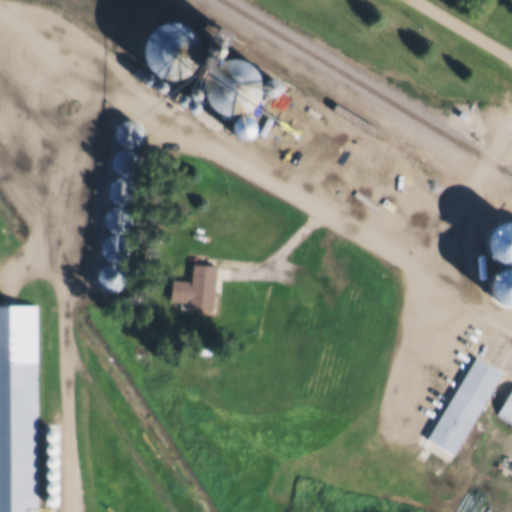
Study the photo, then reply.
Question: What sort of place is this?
industrial area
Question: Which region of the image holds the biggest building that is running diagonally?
bottom right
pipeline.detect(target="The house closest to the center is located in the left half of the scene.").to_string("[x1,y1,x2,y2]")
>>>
[172,266,216,314]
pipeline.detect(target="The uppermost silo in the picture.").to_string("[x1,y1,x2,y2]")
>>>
[139,24,200,80]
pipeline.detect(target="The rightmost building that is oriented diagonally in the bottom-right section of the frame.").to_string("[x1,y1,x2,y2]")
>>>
[426,360,501,460]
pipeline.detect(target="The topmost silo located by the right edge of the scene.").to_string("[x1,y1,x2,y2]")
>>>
[489,220,512,266]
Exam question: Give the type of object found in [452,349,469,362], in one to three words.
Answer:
vehicle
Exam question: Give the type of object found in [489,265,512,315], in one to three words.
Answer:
silo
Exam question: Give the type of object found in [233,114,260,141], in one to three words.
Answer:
silo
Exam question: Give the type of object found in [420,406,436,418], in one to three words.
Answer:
vehicle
